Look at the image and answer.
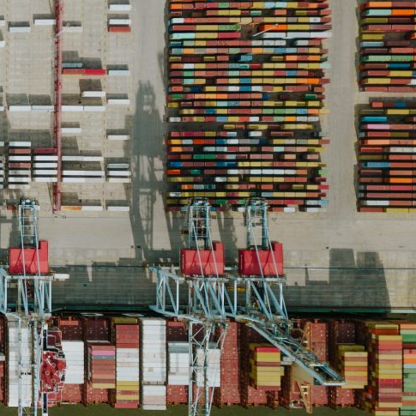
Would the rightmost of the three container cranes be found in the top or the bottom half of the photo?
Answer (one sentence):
Seen from above, the rightmost of the three container cranes lies in the bottom half of the view.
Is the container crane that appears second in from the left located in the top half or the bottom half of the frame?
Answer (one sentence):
The container crane that appears second in from the left is in the bottom half of the image.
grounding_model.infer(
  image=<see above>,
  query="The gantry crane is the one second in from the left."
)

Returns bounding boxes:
[142,199,227,416]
